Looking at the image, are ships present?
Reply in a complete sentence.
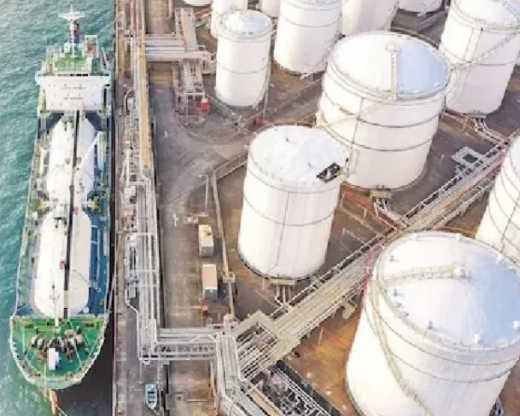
Yes, there's a ship here.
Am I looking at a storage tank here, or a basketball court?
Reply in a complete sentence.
The one in the frame is a storage tank.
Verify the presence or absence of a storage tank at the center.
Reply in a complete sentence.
Yes, there is a storage tank at the center.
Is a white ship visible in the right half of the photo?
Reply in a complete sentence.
No, the scene shows no white ship in the right half of the photo.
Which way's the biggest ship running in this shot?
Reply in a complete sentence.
From this overhead view, the biggest ship appears to run up and down.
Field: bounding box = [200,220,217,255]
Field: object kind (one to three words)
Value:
building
